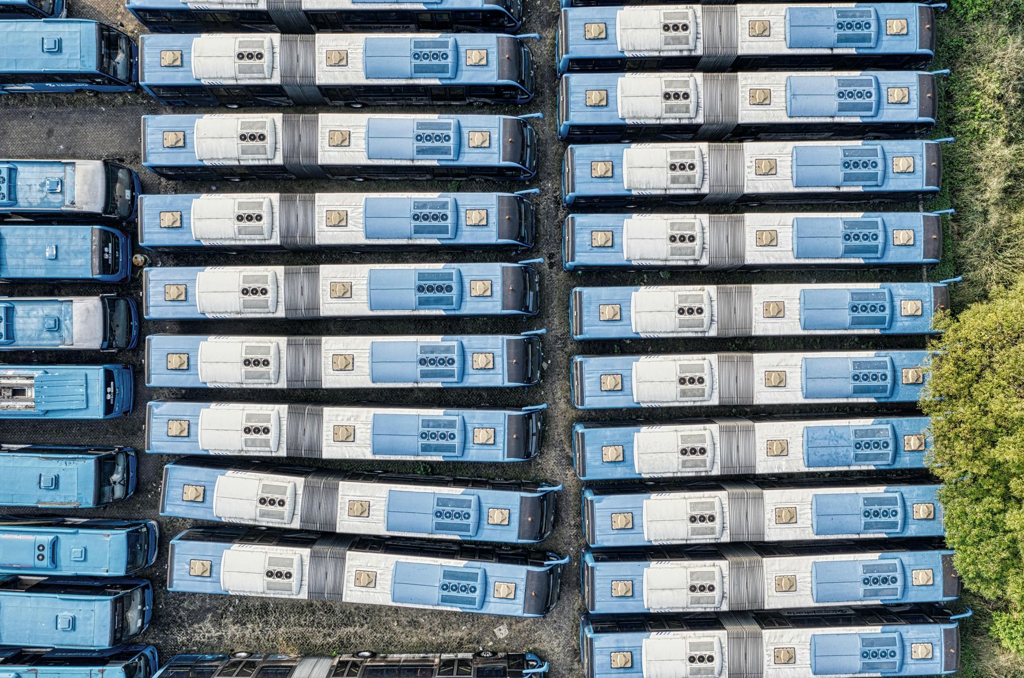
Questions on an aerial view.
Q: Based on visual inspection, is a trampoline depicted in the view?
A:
No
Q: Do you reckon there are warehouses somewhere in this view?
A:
No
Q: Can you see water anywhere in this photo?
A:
No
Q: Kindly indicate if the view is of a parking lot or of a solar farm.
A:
parking lot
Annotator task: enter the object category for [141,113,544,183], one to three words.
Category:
bus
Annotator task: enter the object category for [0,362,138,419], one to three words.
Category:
bus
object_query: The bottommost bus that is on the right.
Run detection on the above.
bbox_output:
[576,601,980,678]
